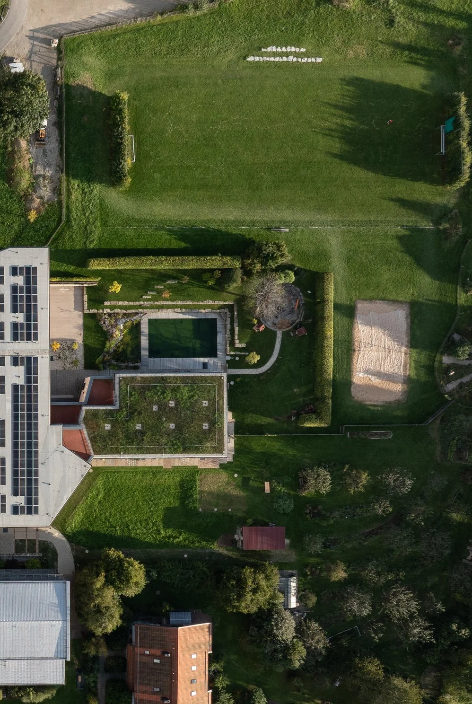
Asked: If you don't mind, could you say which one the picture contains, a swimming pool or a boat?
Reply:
swimming pool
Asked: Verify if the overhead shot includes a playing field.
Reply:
Yes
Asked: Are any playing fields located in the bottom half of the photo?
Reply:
No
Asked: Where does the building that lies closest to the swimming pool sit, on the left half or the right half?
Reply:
left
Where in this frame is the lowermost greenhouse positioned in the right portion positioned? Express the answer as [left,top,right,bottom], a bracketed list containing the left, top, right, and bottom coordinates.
[278,577,301,609]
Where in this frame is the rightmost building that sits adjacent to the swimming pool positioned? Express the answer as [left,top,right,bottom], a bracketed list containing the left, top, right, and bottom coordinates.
[51,373,228,464]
